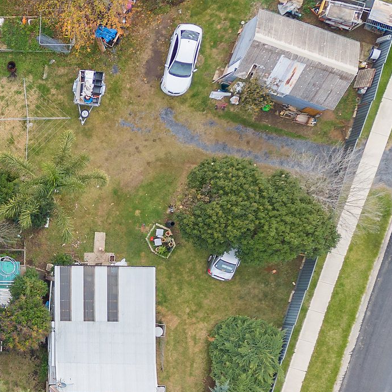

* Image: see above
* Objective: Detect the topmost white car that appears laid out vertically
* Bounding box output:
[163,22,201,96]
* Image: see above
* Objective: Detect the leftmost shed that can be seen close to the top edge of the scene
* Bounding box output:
[222,10,360,111]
